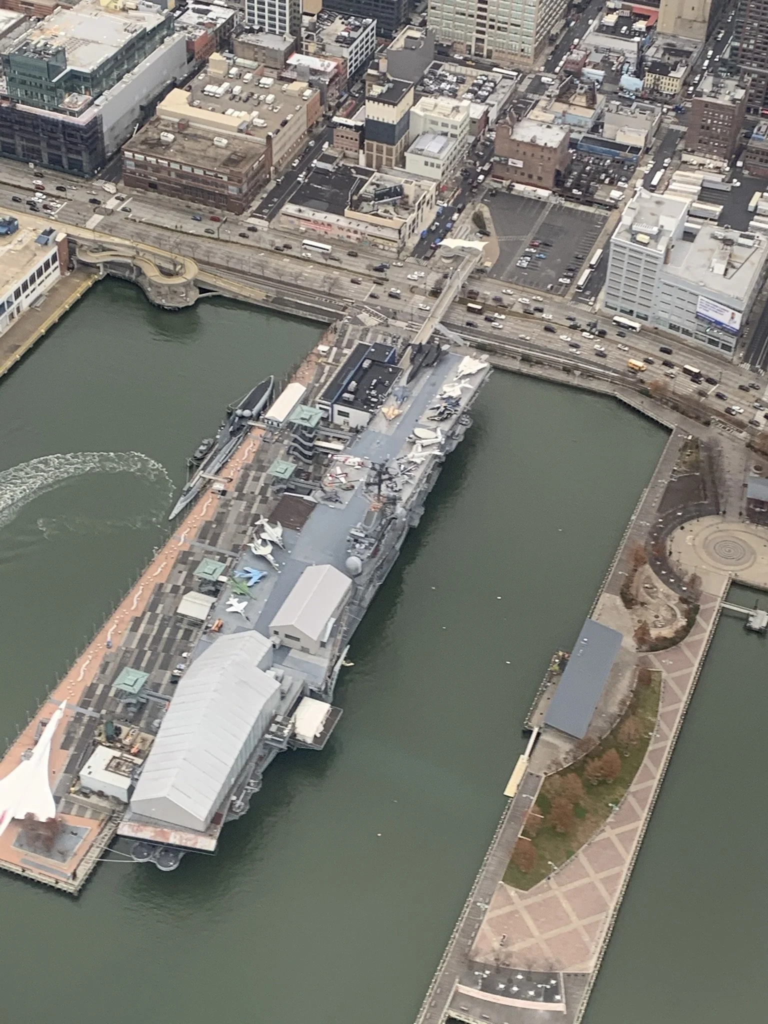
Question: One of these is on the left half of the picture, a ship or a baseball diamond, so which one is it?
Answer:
ship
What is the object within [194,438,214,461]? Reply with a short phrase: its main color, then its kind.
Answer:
gray boat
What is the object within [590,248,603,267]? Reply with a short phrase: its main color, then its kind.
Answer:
white vehicle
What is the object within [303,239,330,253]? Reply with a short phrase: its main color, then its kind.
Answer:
white vehicle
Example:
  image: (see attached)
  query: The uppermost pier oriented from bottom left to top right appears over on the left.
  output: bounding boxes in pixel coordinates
[0,269,98,381]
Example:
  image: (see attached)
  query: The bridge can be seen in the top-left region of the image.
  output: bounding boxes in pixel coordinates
[0,210,197,290]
